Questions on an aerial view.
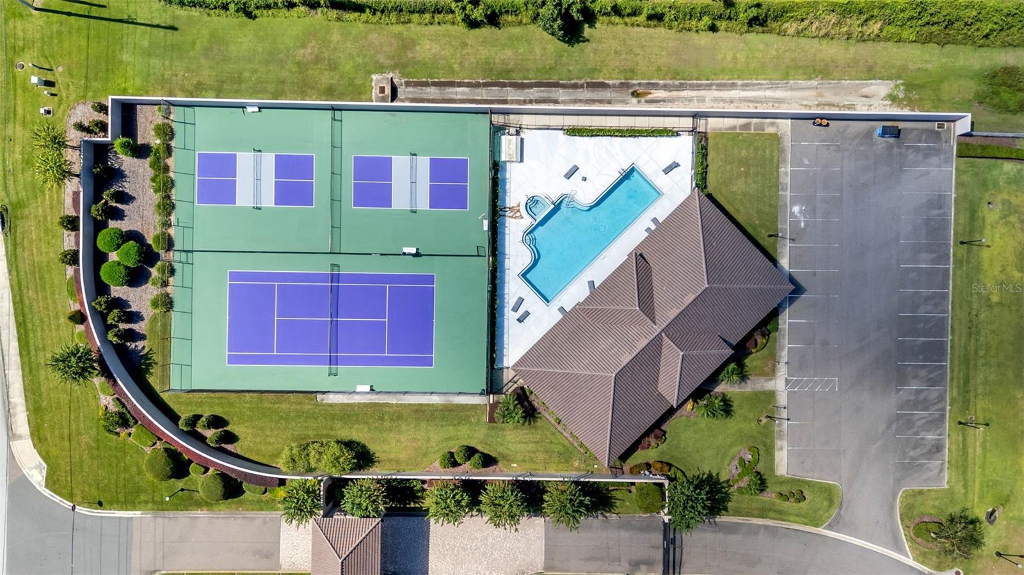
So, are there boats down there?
No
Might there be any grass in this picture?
Yes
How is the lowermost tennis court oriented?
from side to side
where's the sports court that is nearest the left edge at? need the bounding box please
[196,152,315,207]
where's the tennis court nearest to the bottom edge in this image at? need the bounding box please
[226,271,436,367]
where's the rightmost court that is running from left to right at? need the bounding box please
[352,155,469,210]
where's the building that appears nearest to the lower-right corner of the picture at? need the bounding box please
[511,189,795,467]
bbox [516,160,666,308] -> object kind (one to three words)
swimming pool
